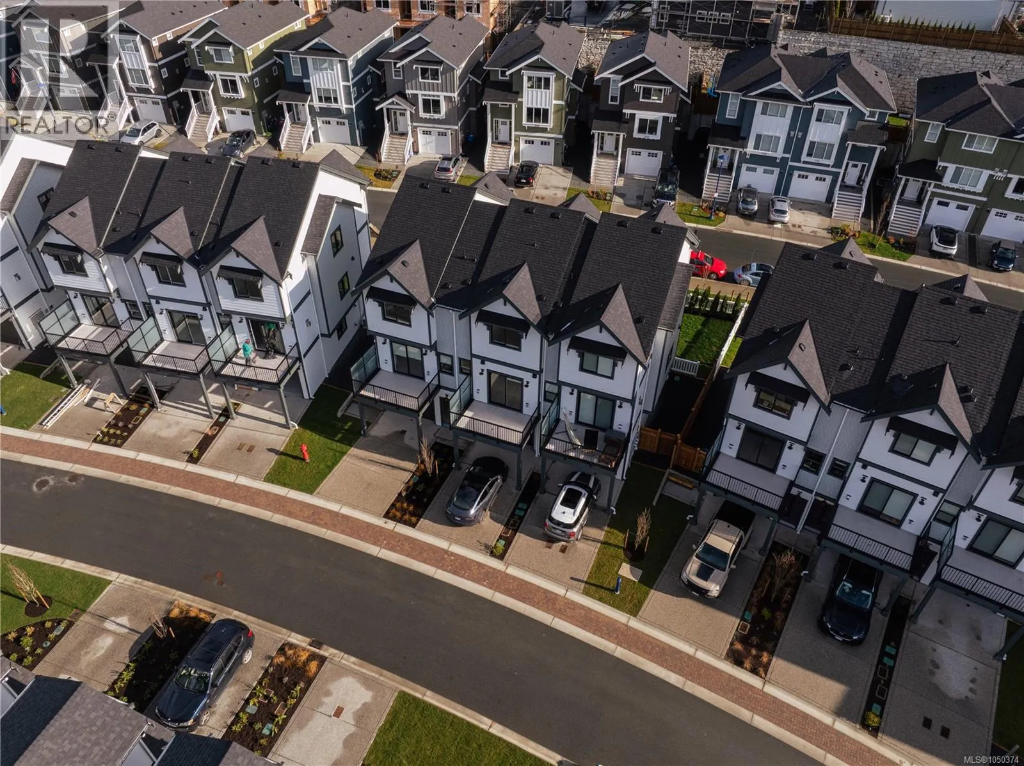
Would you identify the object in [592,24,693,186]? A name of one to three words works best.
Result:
house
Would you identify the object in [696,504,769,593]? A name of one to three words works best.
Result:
vehicle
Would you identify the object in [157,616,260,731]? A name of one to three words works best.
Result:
car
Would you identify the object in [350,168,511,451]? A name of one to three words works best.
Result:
house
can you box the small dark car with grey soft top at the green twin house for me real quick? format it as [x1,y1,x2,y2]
[989,233,1024,268]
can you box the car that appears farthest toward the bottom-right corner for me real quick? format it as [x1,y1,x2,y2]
[827,559,886,640]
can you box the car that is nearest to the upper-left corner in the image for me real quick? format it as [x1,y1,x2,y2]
[116,113,165,138]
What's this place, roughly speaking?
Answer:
residential area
